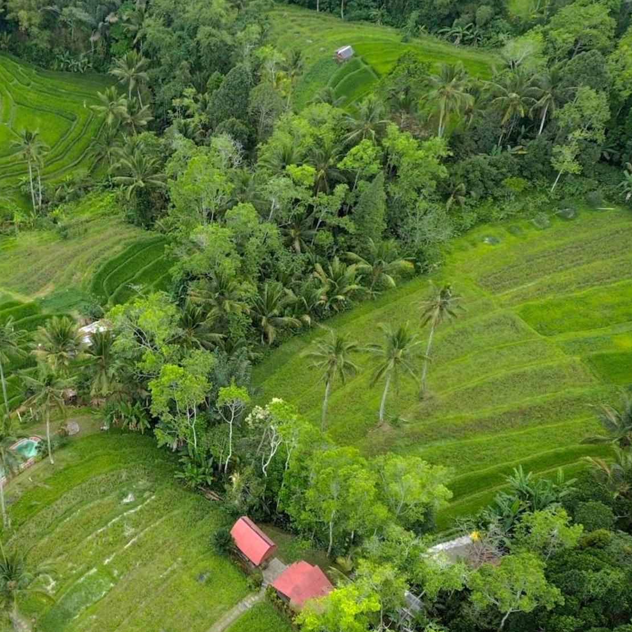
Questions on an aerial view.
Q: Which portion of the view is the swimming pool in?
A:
bottom left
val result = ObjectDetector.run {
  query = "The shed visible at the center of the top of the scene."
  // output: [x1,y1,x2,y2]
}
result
[330,48,356,67]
